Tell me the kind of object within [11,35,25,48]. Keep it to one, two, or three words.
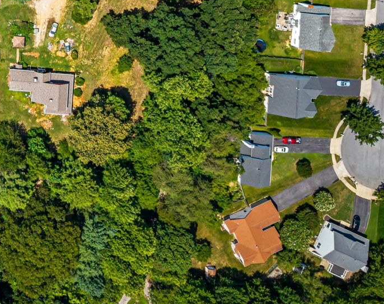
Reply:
gazebo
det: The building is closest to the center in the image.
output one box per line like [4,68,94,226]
[236,133,272,188]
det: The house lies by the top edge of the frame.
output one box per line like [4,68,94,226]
[291,0,336,50]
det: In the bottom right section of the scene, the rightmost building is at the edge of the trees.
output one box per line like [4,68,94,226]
[310,218,372,273]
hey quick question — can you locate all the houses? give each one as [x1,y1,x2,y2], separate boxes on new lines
[310,218,372,273]
[8,68,75,116]
[291,0,336,50]
[236,133,272,188]
[221,197,284,267]
[261,72,321,118]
